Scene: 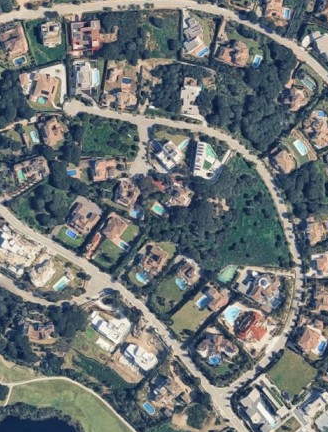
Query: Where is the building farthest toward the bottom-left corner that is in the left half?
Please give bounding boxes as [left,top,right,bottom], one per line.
[26,322,54,339]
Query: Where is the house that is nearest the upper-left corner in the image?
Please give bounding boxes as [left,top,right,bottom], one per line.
[0,26,27,57]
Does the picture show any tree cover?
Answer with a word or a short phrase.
Yes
